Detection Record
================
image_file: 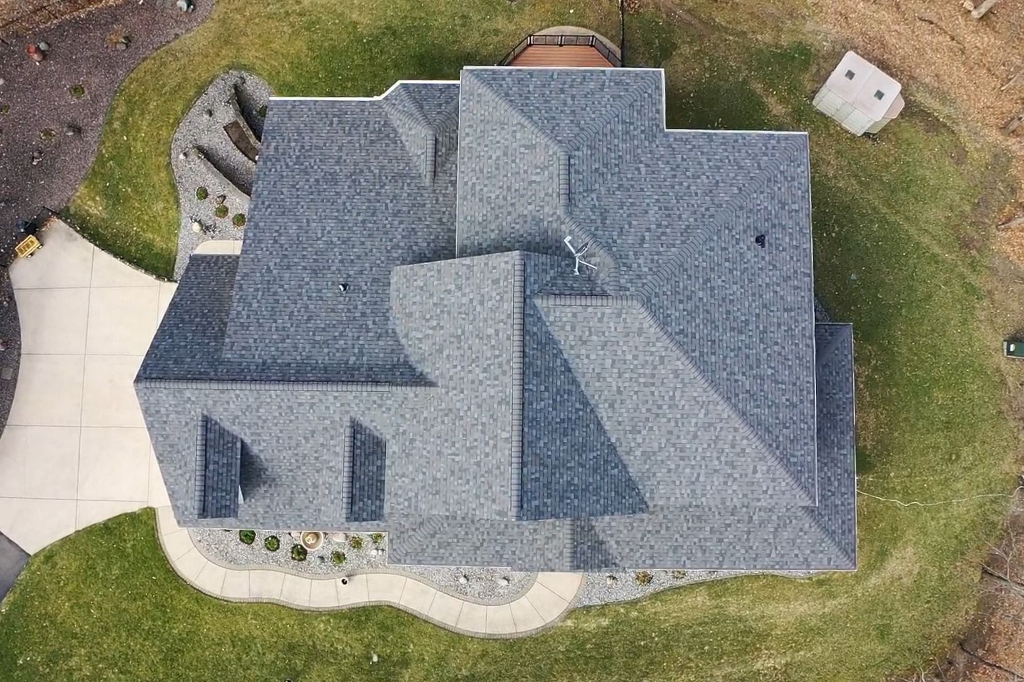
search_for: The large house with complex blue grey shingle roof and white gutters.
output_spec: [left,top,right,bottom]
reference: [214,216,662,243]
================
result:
[133,64,859,573]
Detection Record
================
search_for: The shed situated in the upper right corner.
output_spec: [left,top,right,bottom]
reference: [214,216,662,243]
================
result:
[810,51,902,136]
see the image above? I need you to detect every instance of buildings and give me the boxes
[810,51,902,136]
[133,64,859,573]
